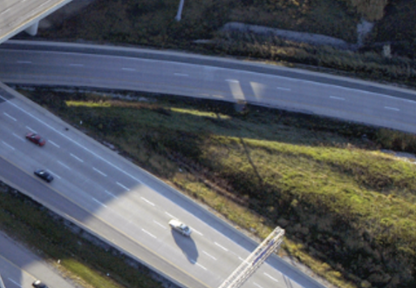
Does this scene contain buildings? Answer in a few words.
No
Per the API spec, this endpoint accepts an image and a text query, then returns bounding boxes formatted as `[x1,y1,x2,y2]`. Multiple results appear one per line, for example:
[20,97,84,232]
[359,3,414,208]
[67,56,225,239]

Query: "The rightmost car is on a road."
[170,220,194,237]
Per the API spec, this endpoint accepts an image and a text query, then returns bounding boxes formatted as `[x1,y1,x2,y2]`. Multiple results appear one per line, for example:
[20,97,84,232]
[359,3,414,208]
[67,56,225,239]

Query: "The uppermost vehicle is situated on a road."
[27,132,49,148]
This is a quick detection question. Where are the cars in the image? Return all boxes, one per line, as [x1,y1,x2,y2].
[30,281,48,288]
[170,220,194,237]
[27,132,49,148]
[35,169,57,184]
